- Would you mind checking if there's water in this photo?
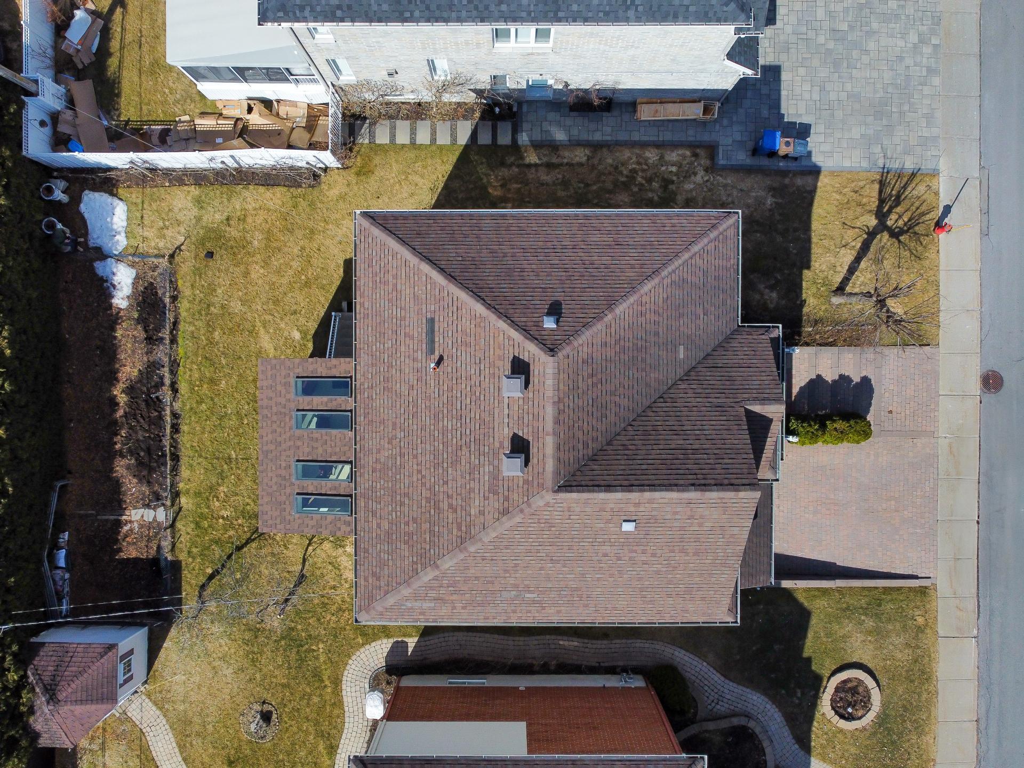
No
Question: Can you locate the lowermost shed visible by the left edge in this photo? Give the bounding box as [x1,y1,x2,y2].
[21,625,146,749]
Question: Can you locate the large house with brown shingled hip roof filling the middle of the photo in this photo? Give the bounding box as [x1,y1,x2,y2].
[258,209,786,626]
